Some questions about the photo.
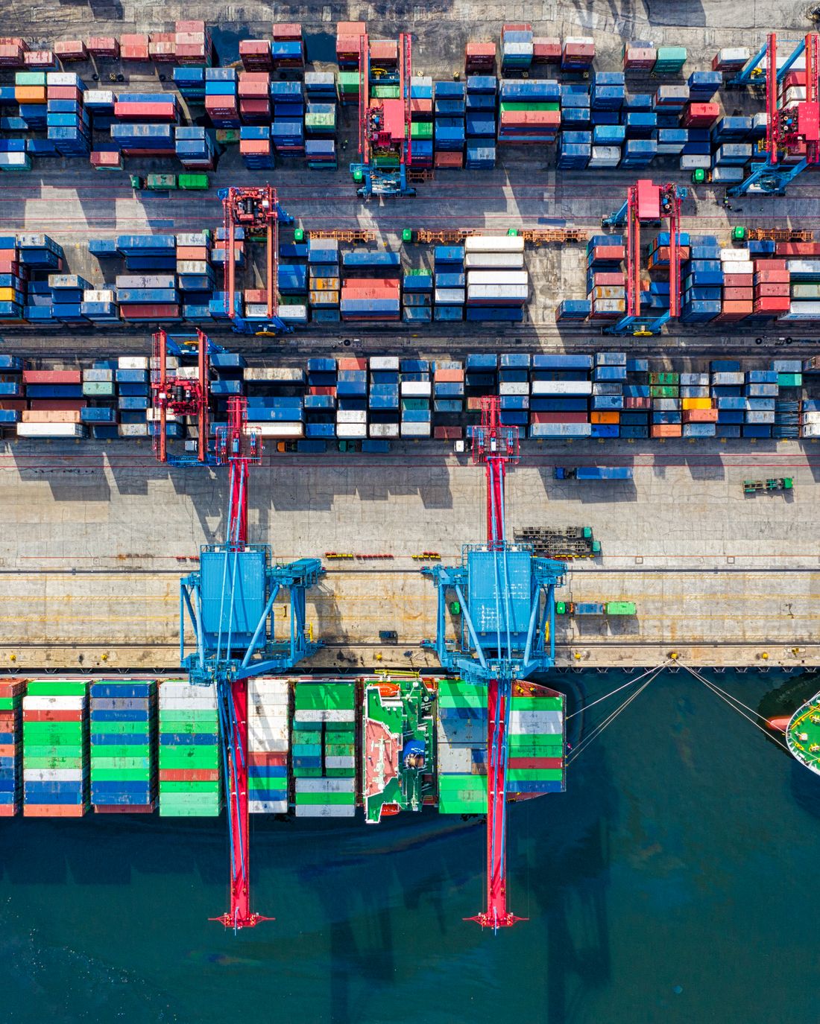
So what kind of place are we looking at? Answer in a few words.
port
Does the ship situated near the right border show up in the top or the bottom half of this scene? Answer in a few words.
bottom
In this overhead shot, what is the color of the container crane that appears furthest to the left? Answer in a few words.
red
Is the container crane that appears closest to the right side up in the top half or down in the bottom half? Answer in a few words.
top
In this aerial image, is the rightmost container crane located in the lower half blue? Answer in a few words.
Yes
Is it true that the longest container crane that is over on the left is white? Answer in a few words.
No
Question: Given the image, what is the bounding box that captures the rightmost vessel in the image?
[769,692,820,774]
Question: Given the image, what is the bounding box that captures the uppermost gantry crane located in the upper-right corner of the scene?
[723,33,820,195]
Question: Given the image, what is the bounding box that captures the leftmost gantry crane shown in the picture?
[155,326,235,464]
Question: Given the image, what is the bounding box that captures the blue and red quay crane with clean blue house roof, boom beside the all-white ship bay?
[176,399,332,942]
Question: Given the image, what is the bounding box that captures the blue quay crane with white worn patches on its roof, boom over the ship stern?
[417,399,568,941]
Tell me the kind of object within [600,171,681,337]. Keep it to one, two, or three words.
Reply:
container crane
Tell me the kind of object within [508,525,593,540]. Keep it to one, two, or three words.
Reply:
vehicle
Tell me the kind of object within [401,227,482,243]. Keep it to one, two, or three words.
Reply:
vehicle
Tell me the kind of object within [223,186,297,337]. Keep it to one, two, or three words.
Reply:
container crane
